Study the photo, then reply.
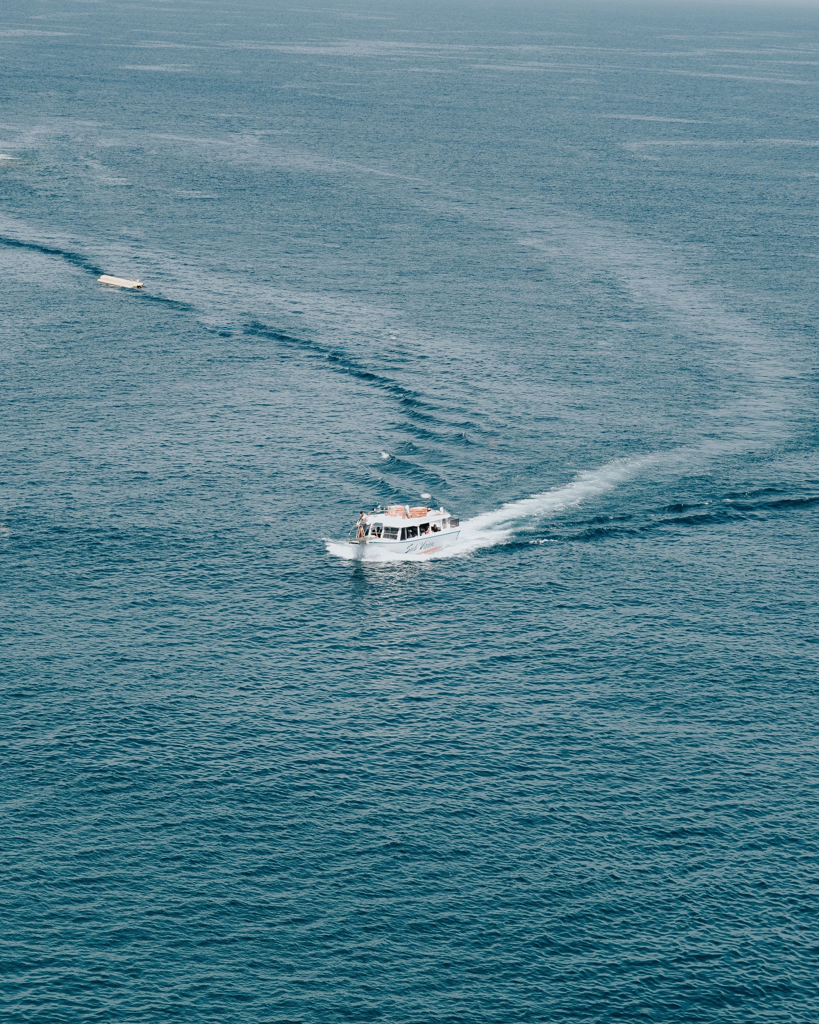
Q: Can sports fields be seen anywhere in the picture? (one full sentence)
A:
No, I find no sports field anywhere in the image.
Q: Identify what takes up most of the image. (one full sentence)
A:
For the most part, this view shows water.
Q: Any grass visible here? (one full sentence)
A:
No, no grass is visible.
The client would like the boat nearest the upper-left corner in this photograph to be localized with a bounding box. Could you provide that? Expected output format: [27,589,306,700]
[96,275,146,289]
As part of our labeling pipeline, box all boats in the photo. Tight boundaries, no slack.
[349,500,460,556]
[96,275,146,289]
